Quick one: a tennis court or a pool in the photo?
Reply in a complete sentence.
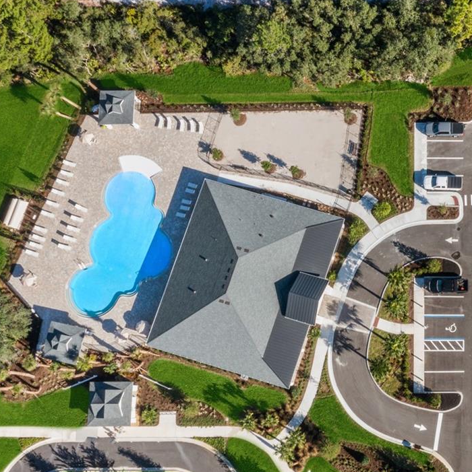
It is a pool that can be seen here.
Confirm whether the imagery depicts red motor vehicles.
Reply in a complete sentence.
No, I can see no red motor vehicle in this picture.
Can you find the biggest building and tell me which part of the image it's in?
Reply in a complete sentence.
Look in the center portion of the view to spot the biggest building.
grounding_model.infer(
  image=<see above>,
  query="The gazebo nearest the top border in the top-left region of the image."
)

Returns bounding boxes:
[97,90,142,130]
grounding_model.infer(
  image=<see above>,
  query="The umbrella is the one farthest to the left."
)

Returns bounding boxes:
[22,271,41,290]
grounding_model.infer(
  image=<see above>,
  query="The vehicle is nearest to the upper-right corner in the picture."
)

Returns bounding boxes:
[425,120,466,137]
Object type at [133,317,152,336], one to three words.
umbrella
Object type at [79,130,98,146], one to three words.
umbrella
